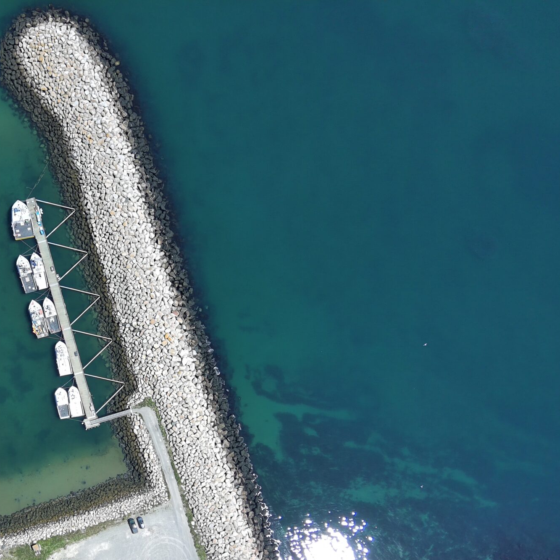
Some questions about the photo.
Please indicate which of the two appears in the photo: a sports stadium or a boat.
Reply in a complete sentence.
It is a boat that can be seen here.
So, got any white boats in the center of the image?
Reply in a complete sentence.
No, the scene shows no white boat in the center of the image.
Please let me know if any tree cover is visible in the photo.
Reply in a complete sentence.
No, there is no tree cover in the image.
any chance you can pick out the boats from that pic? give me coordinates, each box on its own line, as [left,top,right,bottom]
[55,340,72,376]
[32,252,49,290]
[13,200,33,240]
[30,299,48,338]
[18,254,37,293]
[67,386,84,417]
[55,387,71,419]
[44,297,61,334]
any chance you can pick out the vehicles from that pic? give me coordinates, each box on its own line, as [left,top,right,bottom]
[137,515,145,531]
[127,517,139,535]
